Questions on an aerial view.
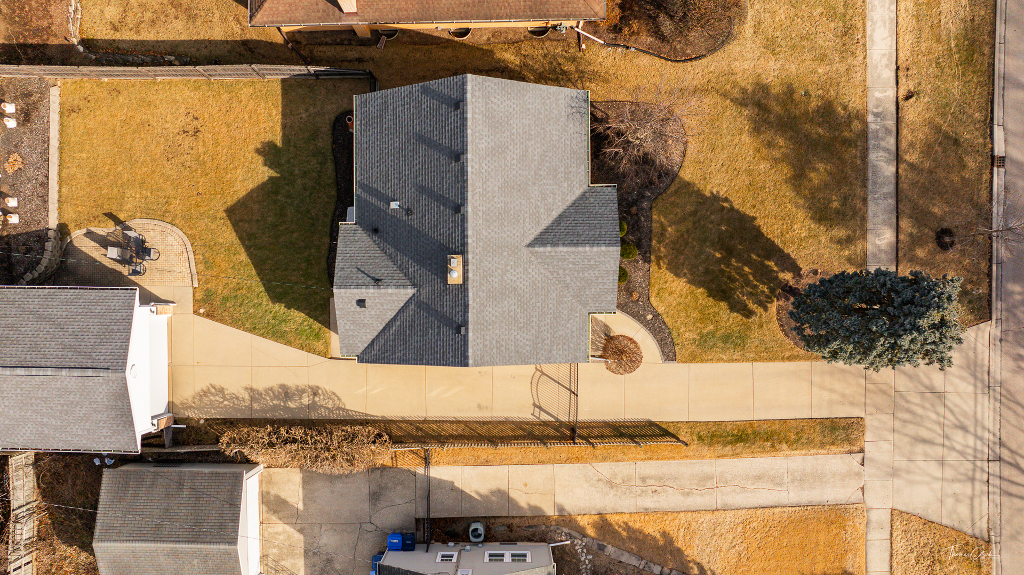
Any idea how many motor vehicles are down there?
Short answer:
0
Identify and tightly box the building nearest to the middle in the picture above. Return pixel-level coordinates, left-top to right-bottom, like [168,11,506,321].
[332,73,621,367]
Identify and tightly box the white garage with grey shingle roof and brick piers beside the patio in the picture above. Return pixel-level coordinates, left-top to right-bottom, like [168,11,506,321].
[0,284,185,457]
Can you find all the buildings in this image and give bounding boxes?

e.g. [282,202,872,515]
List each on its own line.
[246,0,608,61]
[332,73,621,367]
[372,542,570,575]
[0,284,185,457]
[91,462,262,575]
